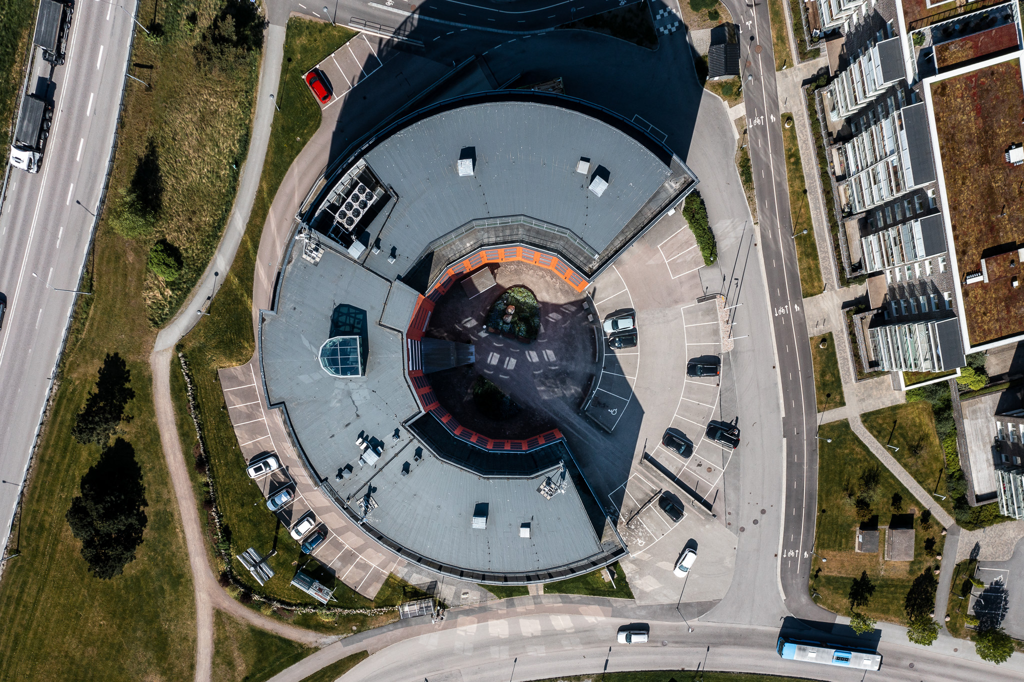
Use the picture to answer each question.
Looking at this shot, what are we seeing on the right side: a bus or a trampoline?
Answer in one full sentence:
You can see a bus on the right side.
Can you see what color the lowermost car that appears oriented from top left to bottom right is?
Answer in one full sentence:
The lowermost car that appears oriented from top left to bottom right looks black in the image.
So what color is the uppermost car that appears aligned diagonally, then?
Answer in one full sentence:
The uppermost car that appears aligned diagonally looks red in the image.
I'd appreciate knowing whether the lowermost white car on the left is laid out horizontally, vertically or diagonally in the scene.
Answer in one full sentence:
The lowermost white car on the left is oriented diagonally.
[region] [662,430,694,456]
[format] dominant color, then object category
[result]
black car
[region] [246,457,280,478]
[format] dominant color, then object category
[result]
white car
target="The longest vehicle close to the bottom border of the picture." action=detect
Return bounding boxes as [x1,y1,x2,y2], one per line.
[773,634,882,671]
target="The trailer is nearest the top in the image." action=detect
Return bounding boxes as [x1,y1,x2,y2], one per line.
[33,0,73,78]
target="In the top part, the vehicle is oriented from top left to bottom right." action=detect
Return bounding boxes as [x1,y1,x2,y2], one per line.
[306,72,330,104]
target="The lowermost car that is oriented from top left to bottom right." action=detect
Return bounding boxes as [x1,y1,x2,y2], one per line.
[658,493,685,523]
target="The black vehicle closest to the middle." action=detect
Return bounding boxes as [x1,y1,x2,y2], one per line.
[608,335,638,350]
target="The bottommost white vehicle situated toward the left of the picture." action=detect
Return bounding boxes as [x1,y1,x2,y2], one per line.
[290,517,317,541]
